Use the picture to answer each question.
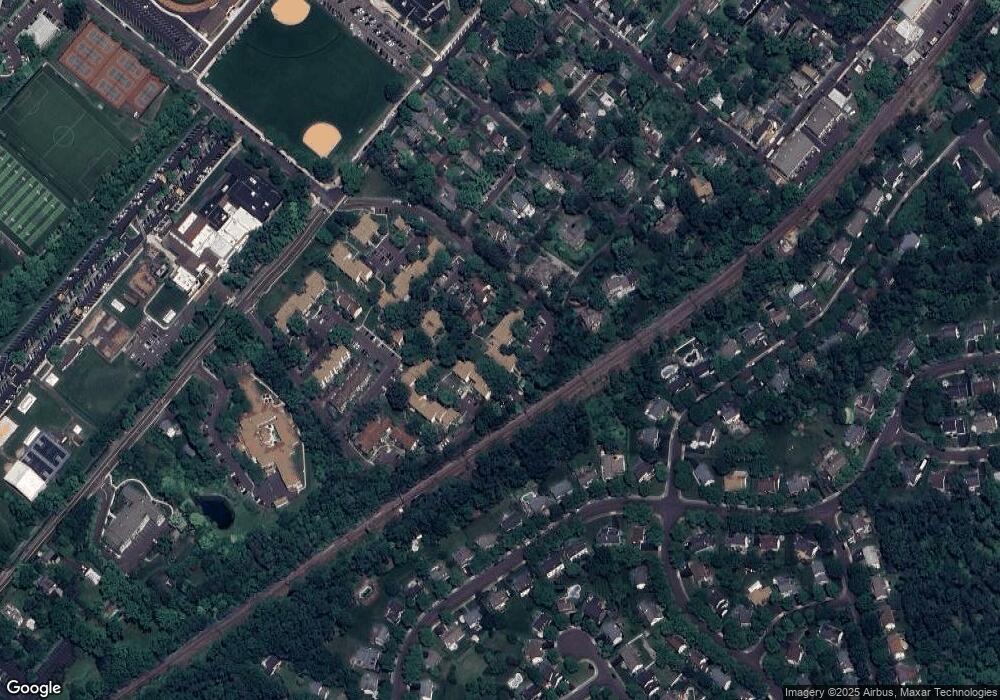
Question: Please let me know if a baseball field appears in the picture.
Yes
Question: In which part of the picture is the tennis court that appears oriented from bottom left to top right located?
top left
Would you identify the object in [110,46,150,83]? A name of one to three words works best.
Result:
tennis court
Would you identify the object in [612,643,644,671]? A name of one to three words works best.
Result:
house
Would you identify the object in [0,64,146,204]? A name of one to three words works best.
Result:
soccer field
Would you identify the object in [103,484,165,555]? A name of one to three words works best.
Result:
building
